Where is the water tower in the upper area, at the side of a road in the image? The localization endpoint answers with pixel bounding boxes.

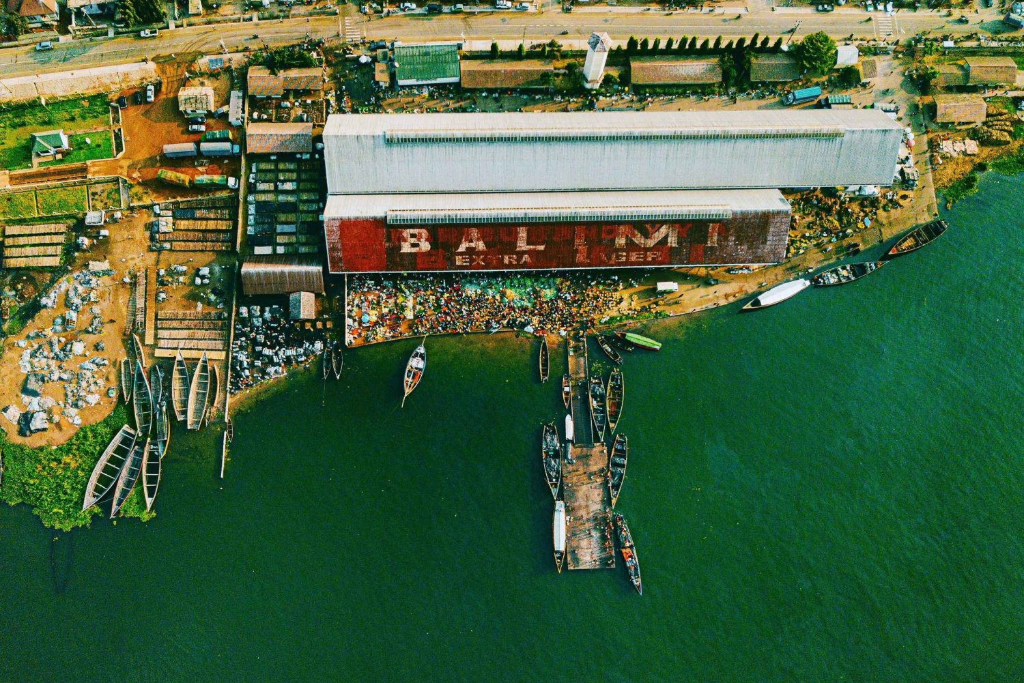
[582,32,614,92]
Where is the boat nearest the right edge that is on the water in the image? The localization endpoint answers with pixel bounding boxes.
[886,219,951,256]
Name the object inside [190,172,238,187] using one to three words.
vehicle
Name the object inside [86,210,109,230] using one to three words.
shed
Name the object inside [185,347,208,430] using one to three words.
boat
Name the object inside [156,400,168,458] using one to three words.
boat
